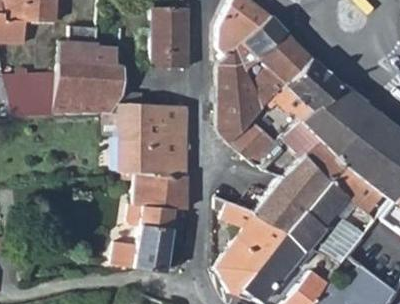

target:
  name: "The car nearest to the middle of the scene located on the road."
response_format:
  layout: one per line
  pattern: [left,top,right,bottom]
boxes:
[216,182,240,198]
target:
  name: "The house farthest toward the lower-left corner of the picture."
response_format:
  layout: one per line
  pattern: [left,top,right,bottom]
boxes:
[108,242,135,270]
